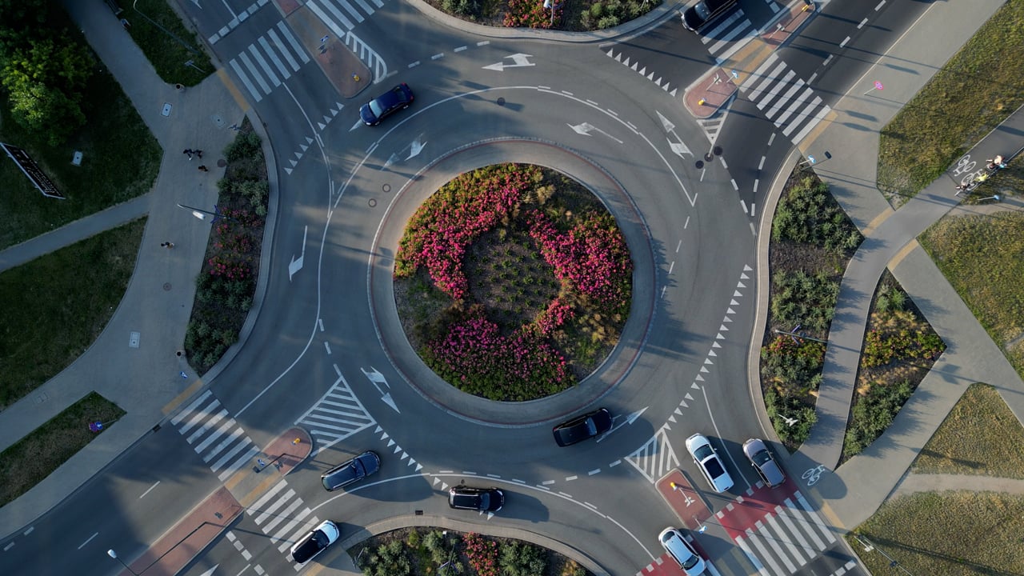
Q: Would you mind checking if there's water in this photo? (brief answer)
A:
No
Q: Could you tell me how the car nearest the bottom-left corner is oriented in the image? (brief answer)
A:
on a diagonal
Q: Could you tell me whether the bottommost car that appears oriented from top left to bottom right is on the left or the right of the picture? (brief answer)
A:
right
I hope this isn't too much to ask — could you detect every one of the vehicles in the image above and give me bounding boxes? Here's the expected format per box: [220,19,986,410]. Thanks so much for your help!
[742,436,787,491]
[319,450,383,493]
[290,521,342,566]
[657,524,706,576]
[448,484,505,516]
[685,432,735,493]
[359,82,414,125]
[683,0,743,30]
[552,409,614,448]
